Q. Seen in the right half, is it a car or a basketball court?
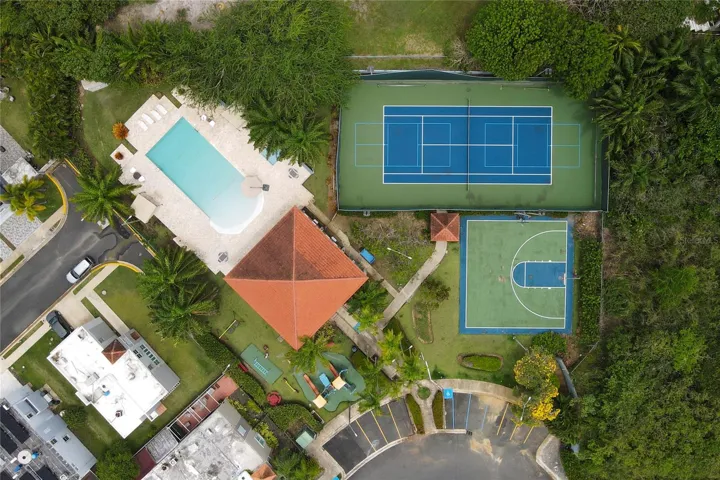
basketball court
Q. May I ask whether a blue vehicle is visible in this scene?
No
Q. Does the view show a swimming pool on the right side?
No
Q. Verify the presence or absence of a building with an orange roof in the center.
Yes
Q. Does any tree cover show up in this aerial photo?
Yes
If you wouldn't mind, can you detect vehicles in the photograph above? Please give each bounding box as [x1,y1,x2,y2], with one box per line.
[67,256,94,283]
[46,311,75,341]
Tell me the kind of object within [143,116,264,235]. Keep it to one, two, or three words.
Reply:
swimming pool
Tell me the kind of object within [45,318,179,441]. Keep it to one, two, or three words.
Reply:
house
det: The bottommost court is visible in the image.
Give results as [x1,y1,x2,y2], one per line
[460,216,574,335]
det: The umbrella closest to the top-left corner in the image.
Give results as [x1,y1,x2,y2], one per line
[242,177,269,196]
